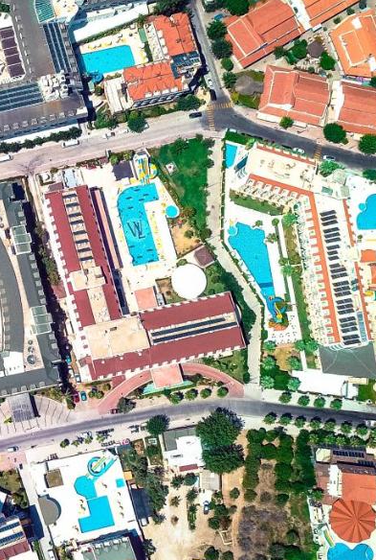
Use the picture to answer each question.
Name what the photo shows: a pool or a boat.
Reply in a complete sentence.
There is a pool in the scene.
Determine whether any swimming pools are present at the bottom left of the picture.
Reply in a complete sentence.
Yes, the scene does show a swimming pool at the bottom left of the picture.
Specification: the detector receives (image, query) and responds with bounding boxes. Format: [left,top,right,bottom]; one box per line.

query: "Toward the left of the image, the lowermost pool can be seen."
[77,494,116,534]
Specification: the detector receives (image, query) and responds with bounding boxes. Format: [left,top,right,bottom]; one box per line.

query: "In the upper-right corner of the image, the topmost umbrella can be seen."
[308,41,325,59]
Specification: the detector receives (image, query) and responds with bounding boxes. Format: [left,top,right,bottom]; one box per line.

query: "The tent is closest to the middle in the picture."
[168,263,205,299]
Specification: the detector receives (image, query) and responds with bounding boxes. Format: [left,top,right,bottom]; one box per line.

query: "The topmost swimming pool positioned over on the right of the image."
[225,142,238,170]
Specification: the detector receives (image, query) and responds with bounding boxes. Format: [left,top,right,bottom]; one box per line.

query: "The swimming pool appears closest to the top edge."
[75,44,135,75]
